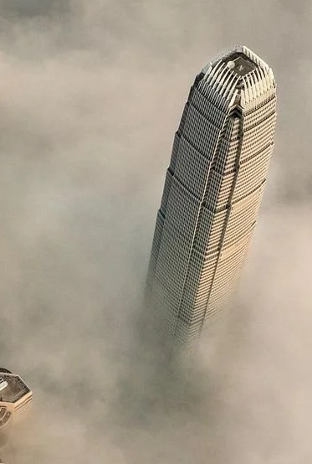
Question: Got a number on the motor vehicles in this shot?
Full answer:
The picture shows no motor vehicles.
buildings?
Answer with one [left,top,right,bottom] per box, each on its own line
[0,362,32,464]
[129,43,284,460]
